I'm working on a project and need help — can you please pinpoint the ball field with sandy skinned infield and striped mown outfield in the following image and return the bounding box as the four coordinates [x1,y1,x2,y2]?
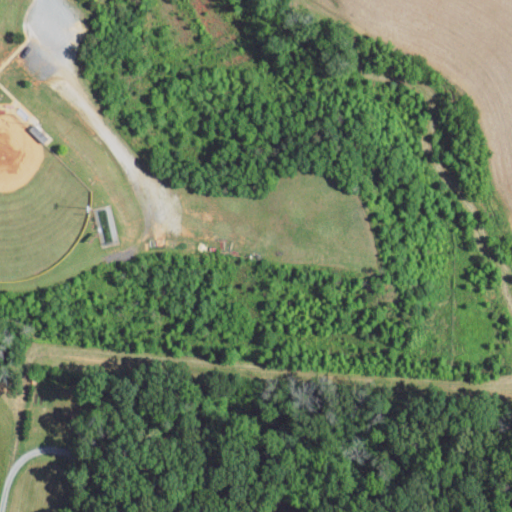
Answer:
[0,110,92,283]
